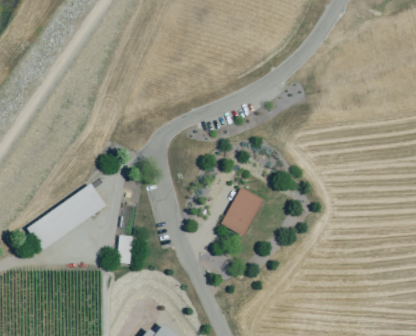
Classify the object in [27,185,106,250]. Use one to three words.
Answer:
barn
